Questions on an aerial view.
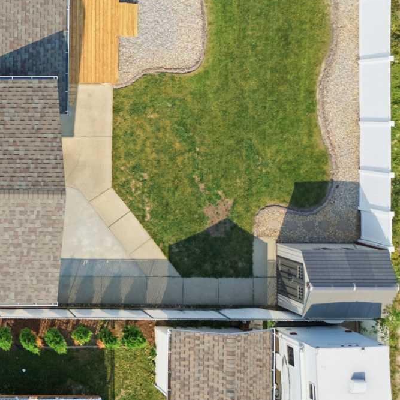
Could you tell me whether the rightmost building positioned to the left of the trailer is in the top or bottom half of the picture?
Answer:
bottom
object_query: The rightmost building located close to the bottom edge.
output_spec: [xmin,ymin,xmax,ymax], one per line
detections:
[154,325,273,400]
